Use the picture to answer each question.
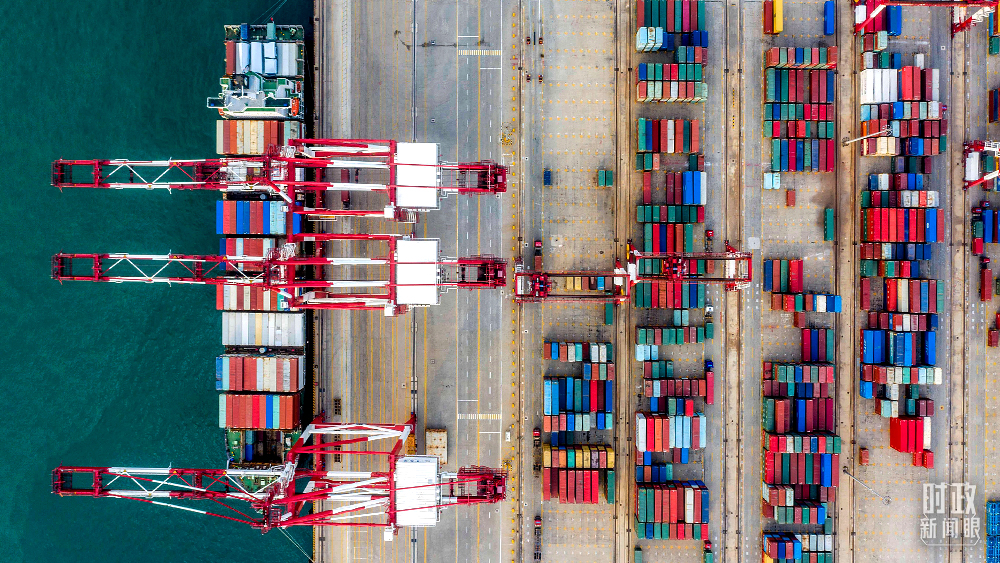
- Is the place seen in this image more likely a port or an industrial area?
port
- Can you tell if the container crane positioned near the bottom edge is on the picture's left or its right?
left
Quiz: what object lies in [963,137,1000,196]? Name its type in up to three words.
container crane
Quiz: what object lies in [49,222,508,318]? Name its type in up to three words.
container crane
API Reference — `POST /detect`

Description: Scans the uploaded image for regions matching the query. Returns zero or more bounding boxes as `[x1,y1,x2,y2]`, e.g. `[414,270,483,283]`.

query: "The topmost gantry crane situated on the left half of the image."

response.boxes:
[49,136,509,227]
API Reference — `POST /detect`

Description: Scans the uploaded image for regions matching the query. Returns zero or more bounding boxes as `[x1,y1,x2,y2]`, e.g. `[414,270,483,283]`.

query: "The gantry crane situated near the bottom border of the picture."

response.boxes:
[48,407,508,543]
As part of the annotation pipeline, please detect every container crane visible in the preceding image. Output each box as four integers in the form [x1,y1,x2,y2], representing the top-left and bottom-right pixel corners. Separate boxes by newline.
[963,137,1000,196]
[48,407,508,543]
[49,222,508,318]
[853,0,1000,41]
[626,234,755,294]
[49,136,509,227]
[515,252,636,311]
